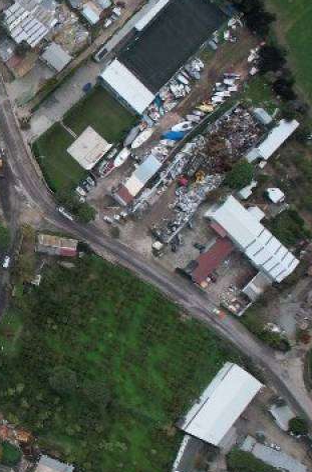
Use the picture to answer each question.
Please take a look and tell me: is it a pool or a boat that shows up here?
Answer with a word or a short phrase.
boat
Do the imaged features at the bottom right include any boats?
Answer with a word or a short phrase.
No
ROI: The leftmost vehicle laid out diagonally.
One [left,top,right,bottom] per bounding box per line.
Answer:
[55,204,76,223]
